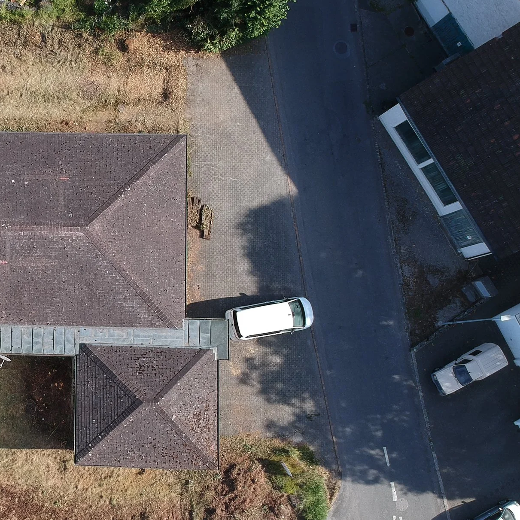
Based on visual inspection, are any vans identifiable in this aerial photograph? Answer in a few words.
Yes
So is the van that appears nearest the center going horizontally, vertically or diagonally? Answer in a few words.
horizontally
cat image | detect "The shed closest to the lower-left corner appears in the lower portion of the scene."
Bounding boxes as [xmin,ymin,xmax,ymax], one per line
[56,343,251,482]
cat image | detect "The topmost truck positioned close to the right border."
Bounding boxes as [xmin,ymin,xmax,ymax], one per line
[422,341,514,402]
